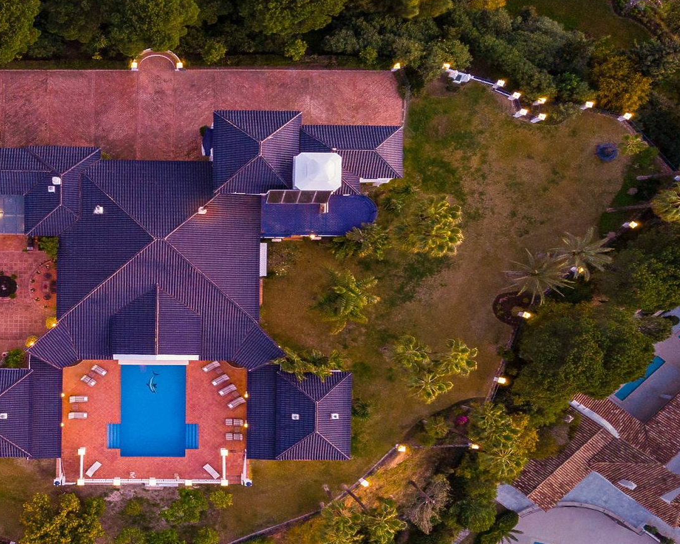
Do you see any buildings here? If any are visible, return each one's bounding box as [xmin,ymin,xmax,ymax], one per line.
[0,109,404,460]
[507,392,680,529]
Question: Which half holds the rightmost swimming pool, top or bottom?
bottom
